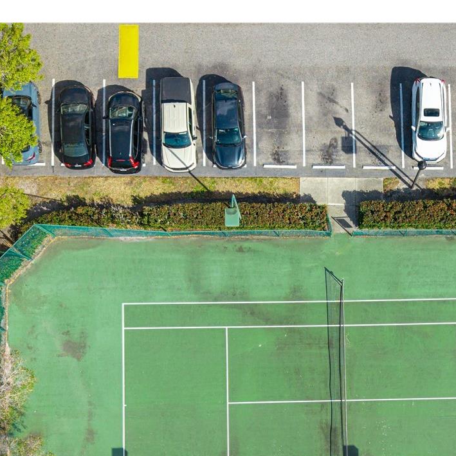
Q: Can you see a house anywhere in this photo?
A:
No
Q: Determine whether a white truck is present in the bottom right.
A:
No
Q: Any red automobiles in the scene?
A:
No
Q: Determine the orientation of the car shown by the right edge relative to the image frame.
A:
from top to bottom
